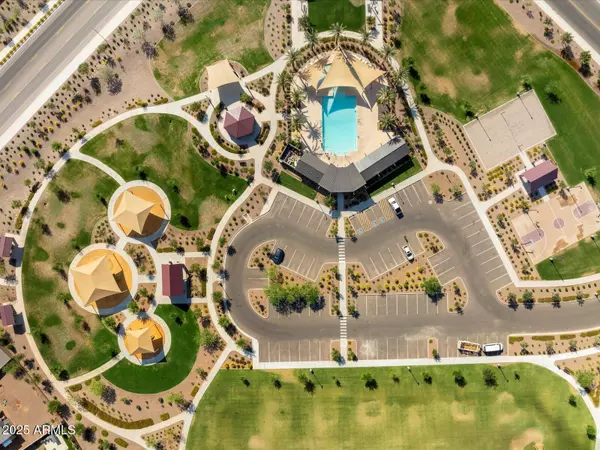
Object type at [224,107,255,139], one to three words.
building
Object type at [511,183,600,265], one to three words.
basketball court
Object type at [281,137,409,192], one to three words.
building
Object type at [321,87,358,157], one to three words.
swimming pool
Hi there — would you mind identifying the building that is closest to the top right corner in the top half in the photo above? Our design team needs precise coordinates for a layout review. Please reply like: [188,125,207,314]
[519,161,559,192]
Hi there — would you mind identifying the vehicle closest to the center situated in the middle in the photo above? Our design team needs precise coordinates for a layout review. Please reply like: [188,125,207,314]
[271,247,284,265]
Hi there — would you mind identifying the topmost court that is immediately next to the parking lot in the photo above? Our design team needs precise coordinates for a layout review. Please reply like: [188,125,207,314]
[463,89,558,171]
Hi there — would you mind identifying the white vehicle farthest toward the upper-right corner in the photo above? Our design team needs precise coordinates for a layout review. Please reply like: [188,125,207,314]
[390,196,405,216]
